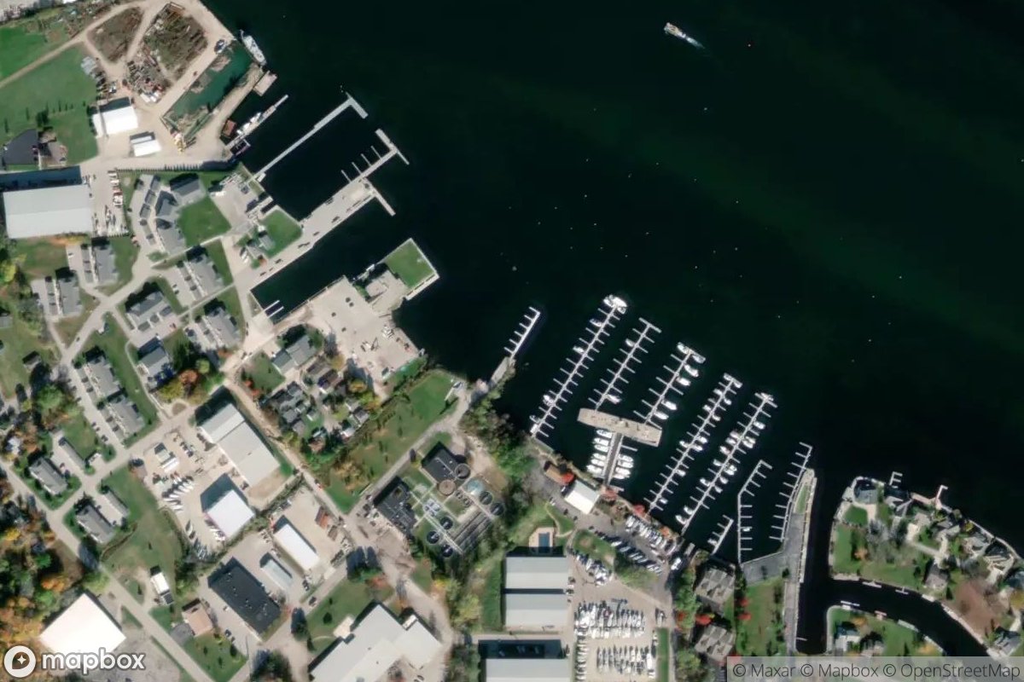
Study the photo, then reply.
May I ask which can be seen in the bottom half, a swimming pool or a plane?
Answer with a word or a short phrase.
swimming pool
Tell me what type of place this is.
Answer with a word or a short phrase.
port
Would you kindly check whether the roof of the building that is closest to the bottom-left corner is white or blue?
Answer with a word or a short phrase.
white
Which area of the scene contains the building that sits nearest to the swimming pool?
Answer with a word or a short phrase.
bottom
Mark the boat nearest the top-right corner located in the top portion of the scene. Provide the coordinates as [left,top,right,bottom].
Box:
[665,24,685,39]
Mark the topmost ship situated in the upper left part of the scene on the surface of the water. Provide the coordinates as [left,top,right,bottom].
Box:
[240,26,267,63]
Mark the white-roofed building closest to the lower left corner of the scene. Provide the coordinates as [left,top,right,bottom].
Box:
[38,594,126,676]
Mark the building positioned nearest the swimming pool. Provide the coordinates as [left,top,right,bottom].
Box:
[503,557,568,590]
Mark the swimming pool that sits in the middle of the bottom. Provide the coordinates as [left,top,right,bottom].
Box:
[529,528,555,558]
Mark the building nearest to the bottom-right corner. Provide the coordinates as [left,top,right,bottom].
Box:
[993,632,1023,659]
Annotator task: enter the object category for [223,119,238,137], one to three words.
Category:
ship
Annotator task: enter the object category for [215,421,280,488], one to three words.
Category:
building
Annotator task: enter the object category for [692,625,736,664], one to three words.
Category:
house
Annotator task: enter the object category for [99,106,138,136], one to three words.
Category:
building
